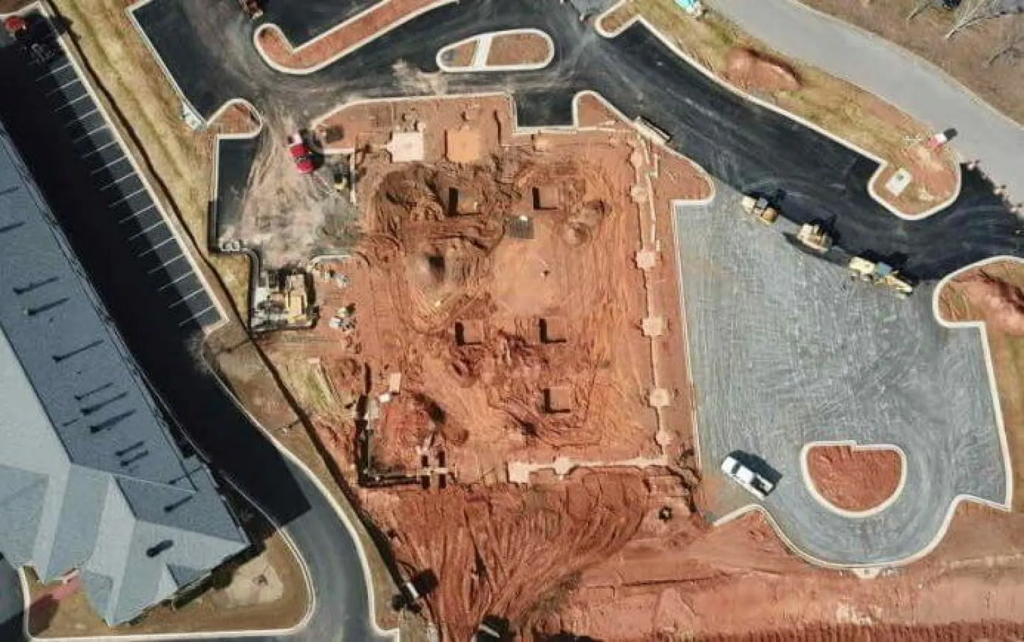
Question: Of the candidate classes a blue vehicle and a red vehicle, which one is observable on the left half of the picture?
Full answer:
You can see a red vehicle on the left half of the picture.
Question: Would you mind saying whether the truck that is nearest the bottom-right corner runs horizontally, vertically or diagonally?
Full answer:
The truck that is nearest the bottom-right corner has been laid out diagonally relative to the frame.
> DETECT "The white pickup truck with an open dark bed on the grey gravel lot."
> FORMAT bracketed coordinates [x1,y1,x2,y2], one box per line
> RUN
[723,455,777,502]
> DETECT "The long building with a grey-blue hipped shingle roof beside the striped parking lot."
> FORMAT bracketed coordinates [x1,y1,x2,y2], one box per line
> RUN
[0,101,249,626]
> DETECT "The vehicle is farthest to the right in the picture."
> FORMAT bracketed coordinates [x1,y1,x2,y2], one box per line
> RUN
[851,255,915,296]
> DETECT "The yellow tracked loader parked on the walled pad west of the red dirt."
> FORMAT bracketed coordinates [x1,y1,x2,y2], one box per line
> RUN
[285,275,307,324]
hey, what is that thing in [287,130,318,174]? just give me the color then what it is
red truck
